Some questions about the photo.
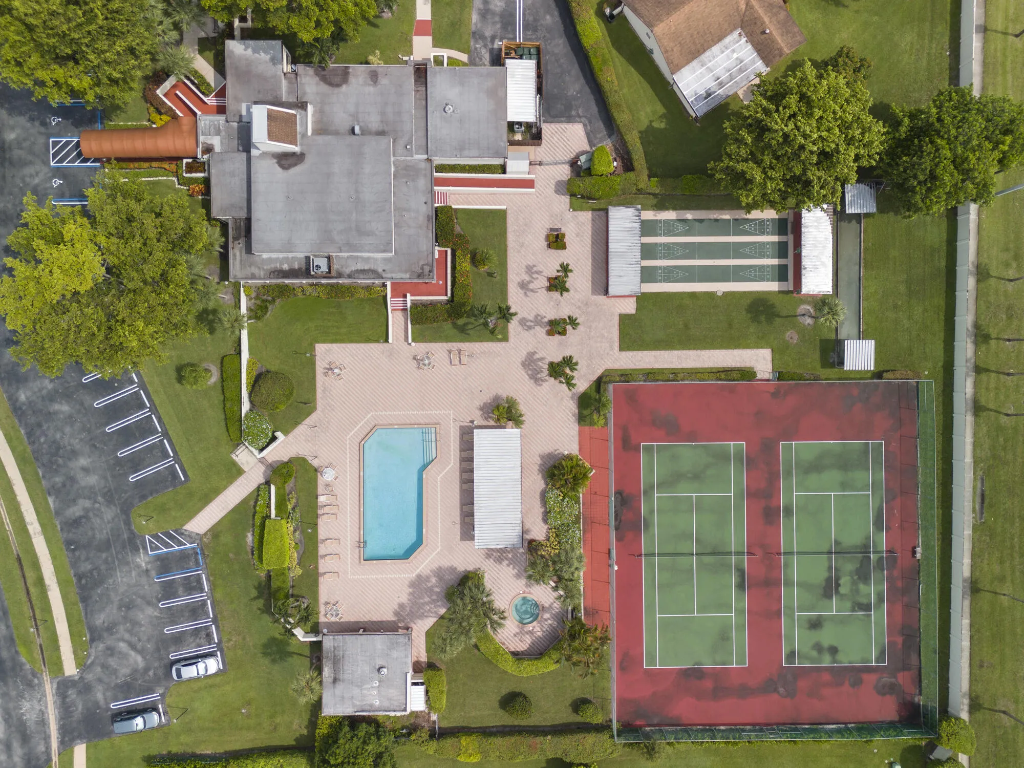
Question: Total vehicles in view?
2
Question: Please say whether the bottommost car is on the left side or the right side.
left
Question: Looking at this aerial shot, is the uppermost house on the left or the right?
right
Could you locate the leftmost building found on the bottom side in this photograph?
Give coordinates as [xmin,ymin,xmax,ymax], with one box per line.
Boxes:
[323,620,417,715]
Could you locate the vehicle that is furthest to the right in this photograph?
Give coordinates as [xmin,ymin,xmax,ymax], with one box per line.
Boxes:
[168,654,217,680]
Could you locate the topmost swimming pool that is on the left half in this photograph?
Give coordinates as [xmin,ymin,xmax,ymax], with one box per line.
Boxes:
[357,424,440,563]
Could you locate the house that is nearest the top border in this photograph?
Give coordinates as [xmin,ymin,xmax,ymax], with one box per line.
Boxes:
[626,0,807,124]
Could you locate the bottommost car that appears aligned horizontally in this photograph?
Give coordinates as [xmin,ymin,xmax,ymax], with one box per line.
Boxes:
[109,706,162,735]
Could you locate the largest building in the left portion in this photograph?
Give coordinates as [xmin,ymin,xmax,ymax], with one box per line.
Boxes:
[198,40,507,286]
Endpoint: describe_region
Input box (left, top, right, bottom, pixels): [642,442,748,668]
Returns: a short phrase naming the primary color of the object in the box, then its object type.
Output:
green tennis court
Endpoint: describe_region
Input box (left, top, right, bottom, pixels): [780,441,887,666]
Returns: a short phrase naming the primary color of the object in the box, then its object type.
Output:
green tennis court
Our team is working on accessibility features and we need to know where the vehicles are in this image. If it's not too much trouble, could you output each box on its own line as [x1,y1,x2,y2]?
[109,706,162,735]
[168,654,217,680]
